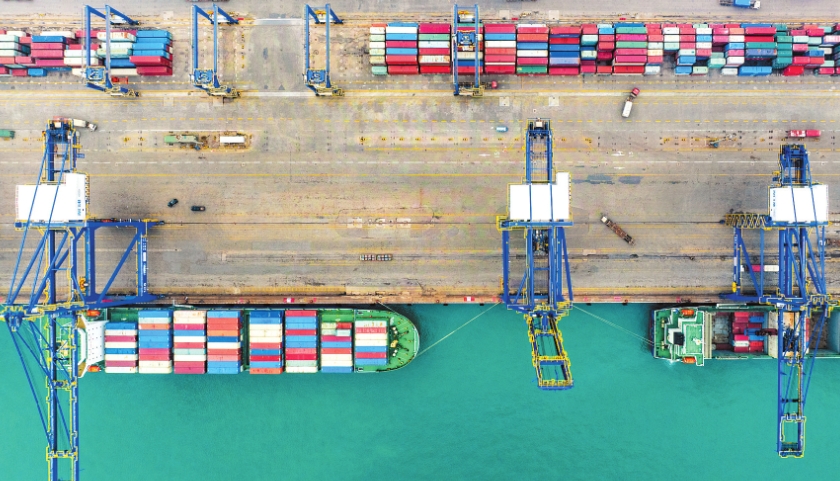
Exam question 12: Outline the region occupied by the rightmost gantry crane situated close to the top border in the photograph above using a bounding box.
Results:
[450,4,487,100]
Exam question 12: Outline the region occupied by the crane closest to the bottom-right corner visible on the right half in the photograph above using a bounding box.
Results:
[714,139,833,464]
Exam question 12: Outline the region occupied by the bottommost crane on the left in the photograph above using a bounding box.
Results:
[3,117,166,481]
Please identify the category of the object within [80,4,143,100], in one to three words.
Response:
container crane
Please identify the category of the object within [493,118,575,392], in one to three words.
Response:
container crane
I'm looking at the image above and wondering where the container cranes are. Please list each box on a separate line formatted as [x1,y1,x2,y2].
[450,4,487,100]
[714,139,833,464]
[493,118,575,392]
[300,4,349,100]
[3,117,166,481]
[188,4,243,100]
[80,4,143,100]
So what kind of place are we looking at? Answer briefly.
port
